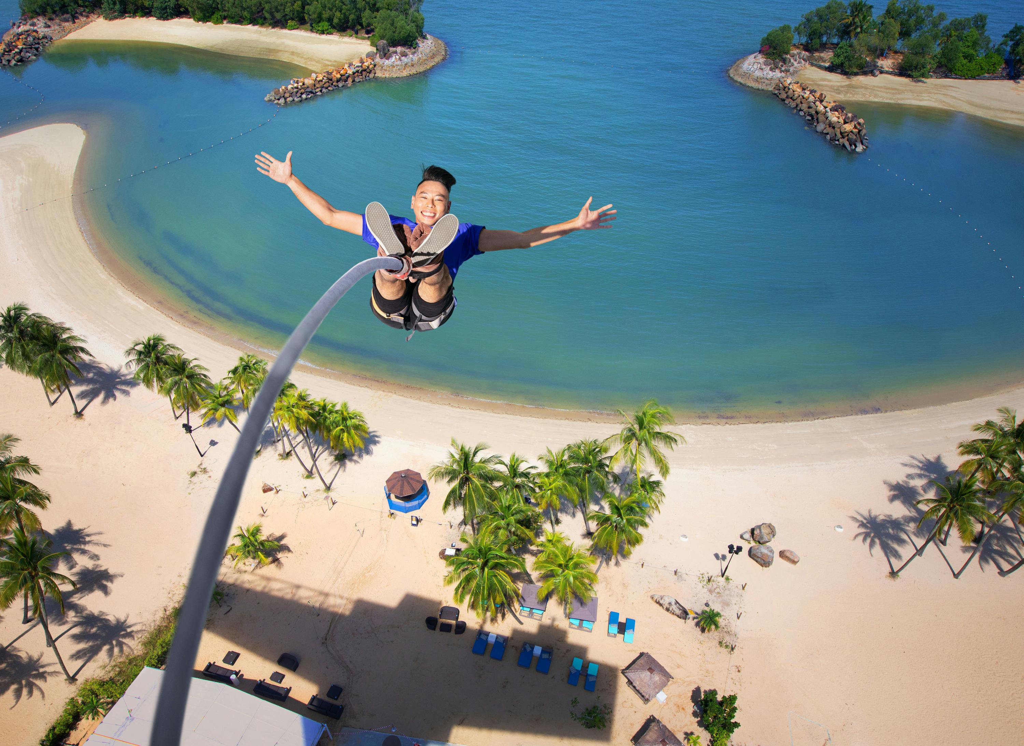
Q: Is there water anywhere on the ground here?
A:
Yes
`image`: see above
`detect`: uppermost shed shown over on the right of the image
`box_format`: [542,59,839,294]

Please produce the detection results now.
[619,651,675,711]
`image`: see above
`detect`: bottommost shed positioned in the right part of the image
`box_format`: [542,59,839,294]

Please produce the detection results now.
[632,718,685,746]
